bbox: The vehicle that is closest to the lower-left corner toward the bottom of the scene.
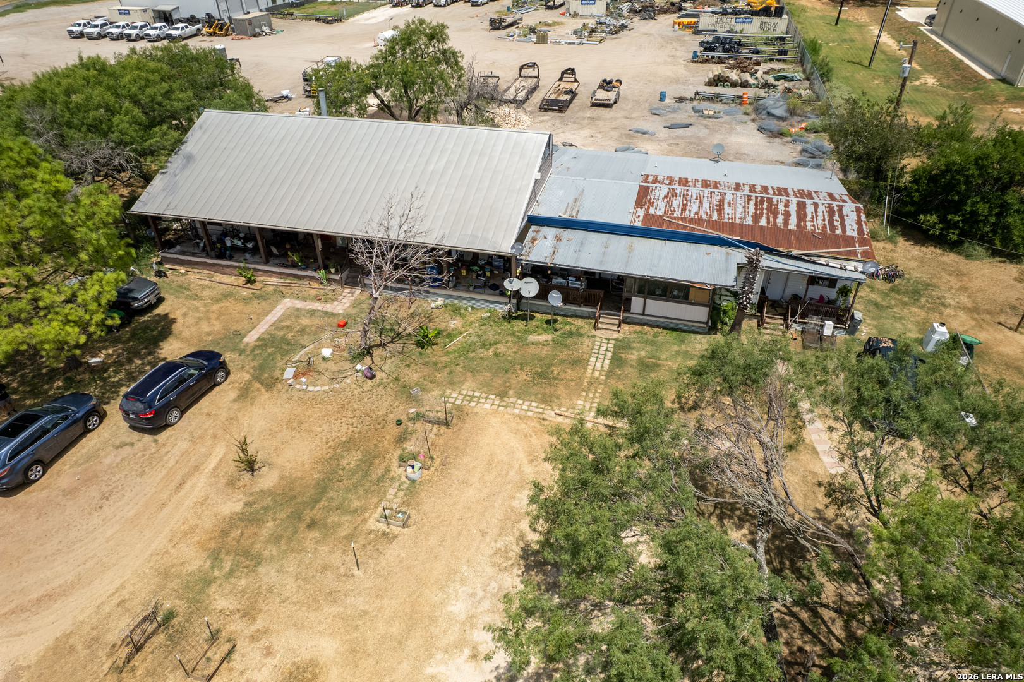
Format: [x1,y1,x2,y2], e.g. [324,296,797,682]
[0,397,101,492]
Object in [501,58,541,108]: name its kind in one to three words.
trailer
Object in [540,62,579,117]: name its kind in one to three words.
trailer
